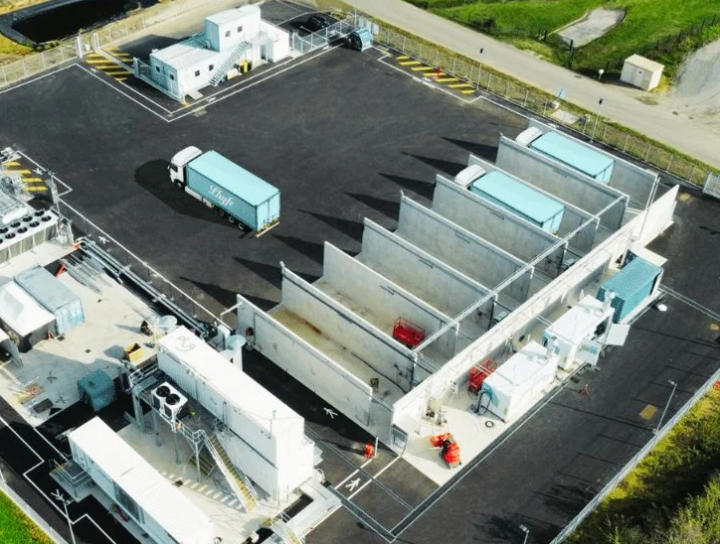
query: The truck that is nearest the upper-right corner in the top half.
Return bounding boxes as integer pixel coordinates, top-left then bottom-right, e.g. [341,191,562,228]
[514,126,615,184]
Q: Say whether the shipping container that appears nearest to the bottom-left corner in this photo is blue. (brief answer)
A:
No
